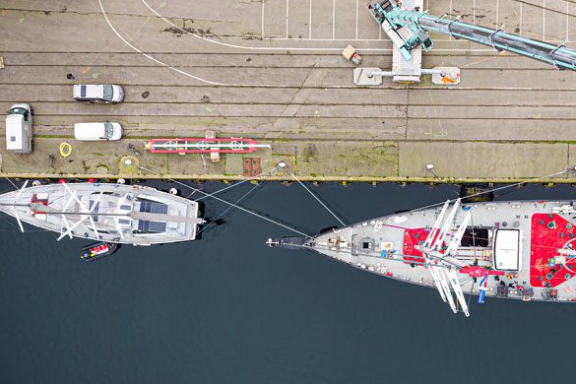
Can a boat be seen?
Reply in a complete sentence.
Yes, there's a boat down there.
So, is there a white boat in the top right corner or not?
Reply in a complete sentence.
No, the scene shows no white boat in the top right corner.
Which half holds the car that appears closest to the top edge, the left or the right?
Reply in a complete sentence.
The car that appears closest to the top edge sits on the left side.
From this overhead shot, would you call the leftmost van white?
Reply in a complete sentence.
Yes, the leftmost van is indeed white.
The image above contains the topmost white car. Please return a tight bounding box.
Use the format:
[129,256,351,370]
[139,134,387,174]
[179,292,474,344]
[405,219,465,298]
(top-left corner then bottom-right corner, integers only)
[73,81,124,104]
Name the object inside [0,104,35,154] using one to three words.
van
